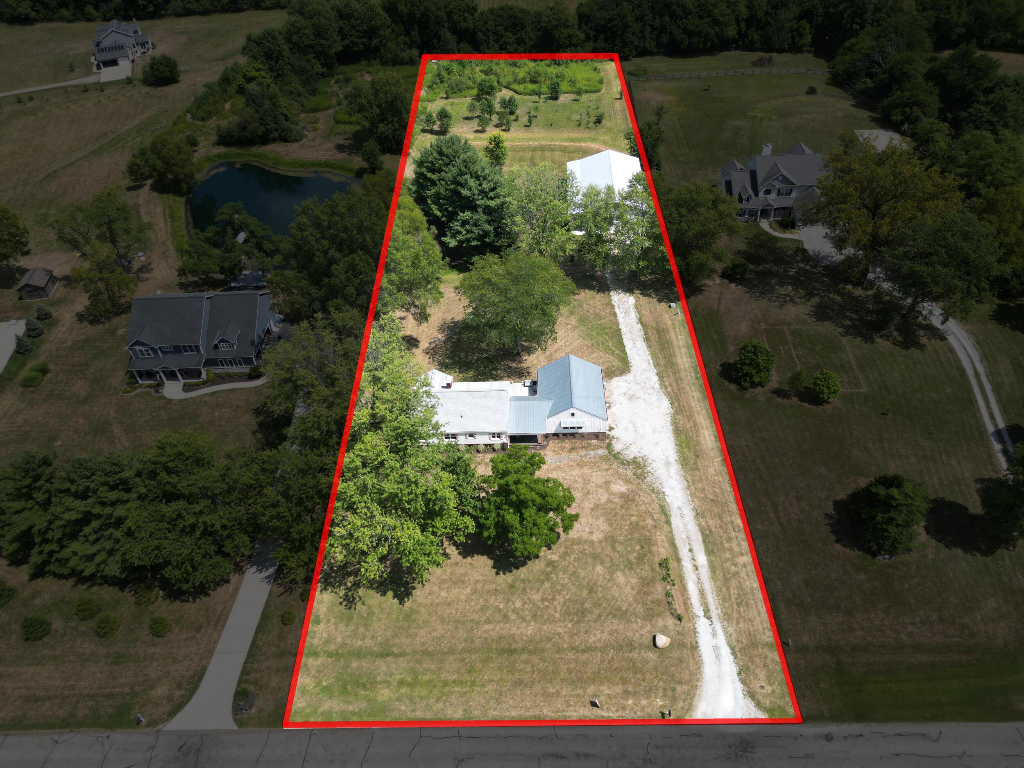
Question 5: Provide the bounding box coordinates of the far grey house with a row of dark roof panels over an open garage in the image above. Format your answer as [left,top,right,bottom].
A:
[86,9,158,71]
